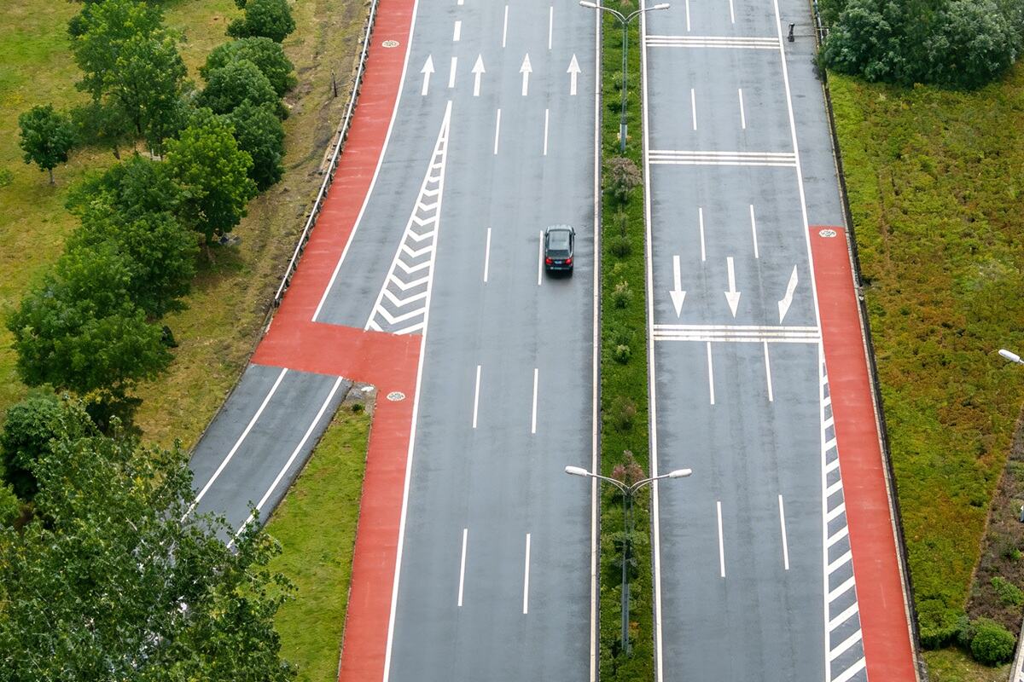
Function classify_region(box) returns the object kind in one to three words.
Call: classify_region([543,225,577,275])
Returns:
car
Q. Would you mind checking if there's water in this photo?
No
